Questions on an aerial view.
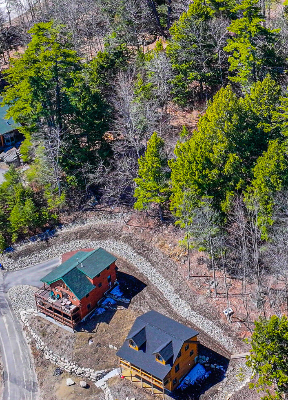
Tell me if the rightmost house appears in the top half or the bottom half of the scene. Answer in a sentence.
The rightmost house is in the bottom half of the image.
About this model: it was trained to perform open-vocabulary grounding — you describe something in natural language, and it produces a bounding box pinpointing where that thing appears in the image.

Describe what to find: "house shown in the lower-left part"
[35,247,120,334]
